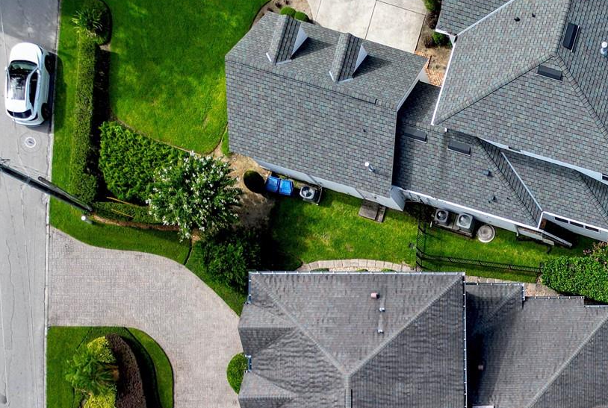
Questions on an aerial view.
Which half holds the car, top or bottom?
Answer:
top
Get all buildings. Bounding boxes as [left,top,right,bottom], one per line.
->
[224,0,608,249]
[238,270,608,408]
